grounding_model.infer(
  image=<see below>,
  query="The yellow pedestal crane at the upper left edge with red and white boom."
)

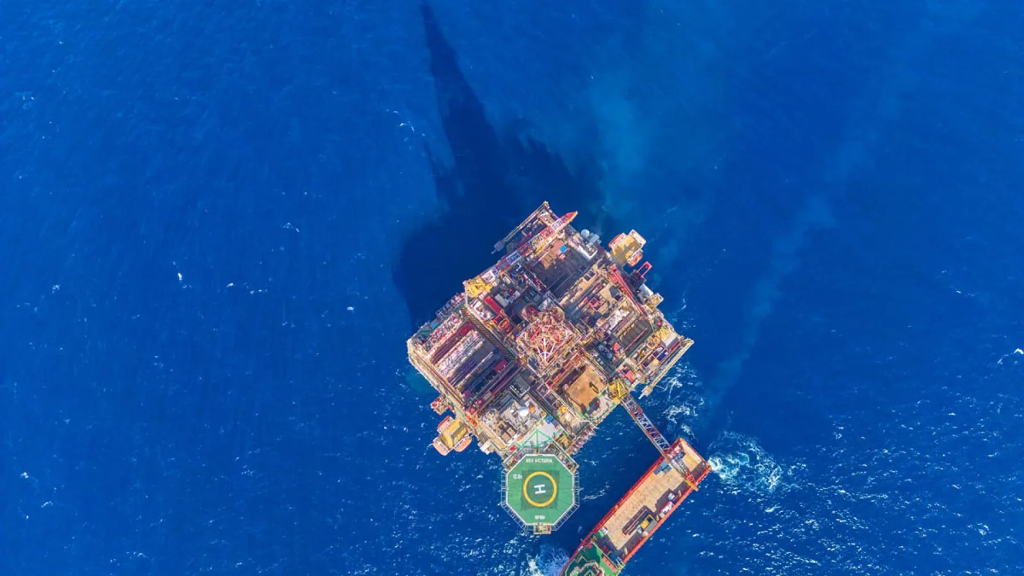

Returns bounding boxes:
[463,209,581,301]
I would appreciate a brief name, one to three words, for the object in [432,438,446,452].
boat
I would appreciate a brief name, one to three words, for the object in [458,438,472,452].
boat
